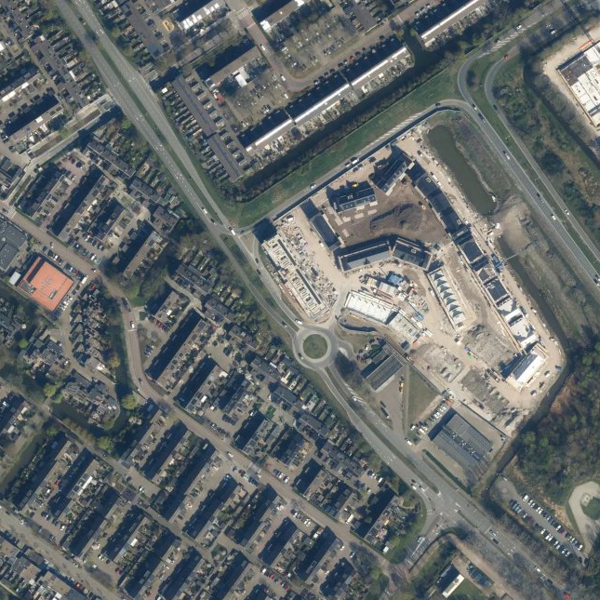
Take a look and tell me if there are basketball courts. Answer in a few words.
No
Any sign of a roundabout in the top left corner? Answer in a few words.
No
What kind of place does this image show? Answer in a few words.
residential area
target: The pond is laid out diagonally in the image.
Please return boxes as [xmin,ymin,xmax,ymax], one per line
[428,126,498,215]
